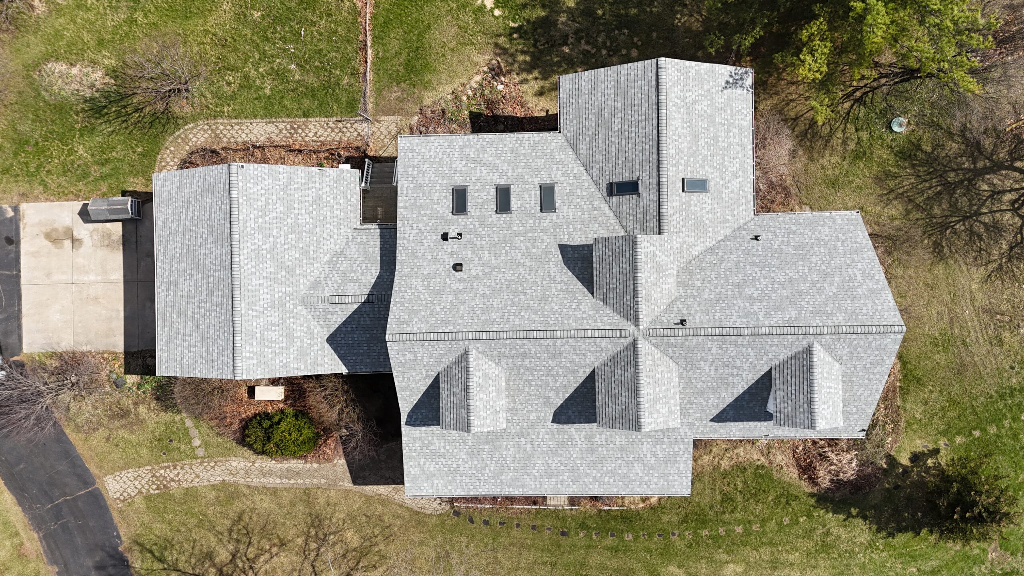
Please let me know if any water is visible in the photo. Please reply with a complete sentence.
No, the picture contains no water.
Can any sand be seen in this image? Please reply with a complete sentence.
No, the picture contains no sand.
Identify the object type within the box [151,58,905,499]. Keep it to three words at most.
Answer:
house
